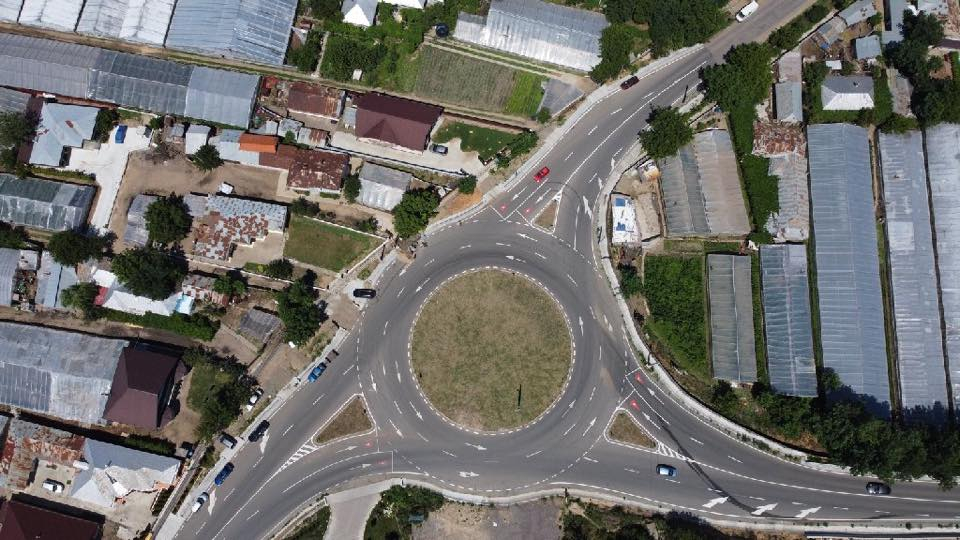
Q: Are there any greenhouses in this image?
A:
Yes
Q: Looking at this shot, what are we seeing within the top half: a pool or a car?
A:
car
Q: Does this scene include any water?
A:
No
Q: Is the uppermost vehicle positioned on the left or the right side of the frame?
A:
right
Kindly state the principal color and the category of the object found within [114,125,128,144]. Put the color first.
blue car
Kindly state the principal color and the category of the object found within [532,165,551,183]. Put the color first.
red car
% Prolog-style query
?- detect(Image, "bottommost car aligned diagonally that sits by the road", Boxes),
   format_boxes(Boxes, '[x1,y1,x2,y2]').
[190,490,211,513]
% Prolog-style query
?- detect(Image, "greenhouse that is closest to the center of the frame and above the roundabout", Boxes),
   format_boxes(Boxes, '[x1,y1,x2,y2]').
[355,161,412,211]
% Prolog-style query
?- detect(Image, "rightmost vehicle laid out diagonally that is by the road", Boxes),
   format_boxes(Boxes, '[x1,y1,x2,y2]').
[734,0,761,22]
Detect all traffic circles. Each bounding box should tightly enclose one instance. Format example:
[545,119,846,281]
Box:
[361,219,623,482]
